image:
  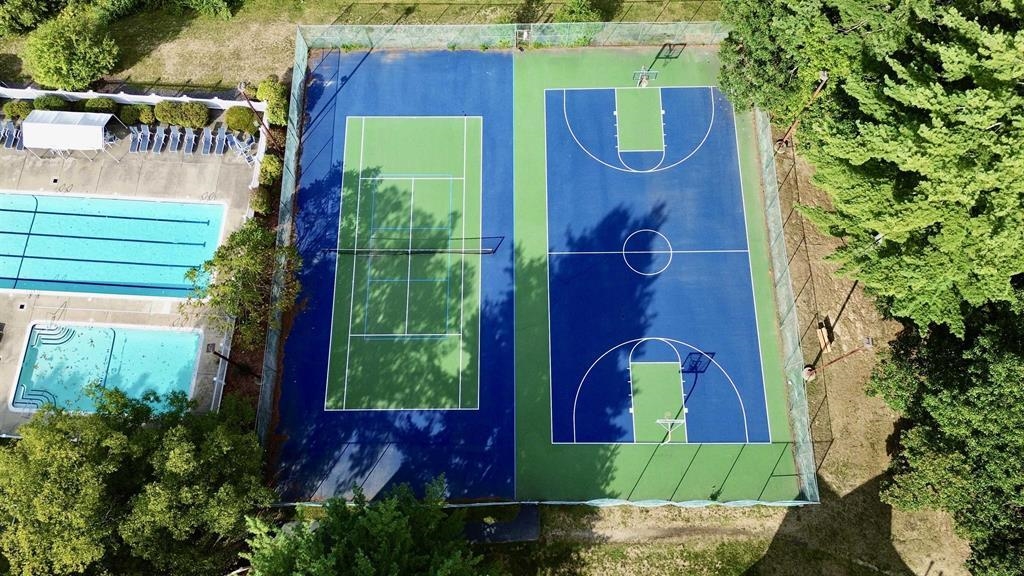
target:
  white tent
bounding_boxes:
[24,111,126,162]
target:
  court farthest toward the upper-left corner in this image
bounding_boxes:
[271,48,515,500]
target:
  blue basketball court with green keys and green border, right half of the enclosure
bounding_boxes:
[513,48,799,500]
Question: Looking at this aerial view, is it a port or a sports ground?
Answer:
sports ground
